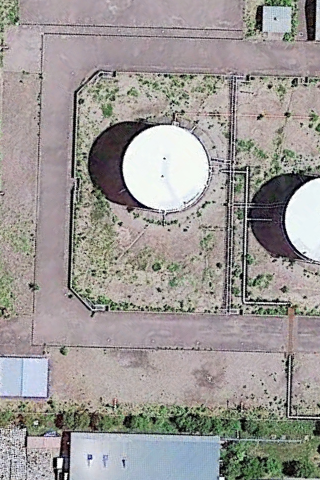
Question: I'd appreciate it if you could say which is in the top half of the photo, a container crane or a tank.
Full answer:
It is a tank that can be seen in the top half of the photo.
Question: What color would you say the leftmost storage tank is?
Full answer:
The leftmost storage tank looks white in the image.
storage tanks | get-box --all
[118,118,217,217]
[278,172,320,268]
